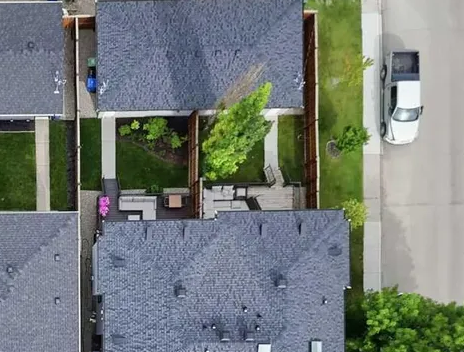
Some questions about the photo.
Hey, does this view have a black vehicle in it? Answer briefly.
No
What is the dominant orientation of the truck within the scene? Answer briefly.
vertically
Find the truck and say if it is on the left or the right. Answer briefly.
right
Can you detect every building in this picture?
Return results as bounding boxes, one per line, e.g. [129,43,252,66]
[91,209,351,352]
[0,210,83,352]
[95,0,308,118]
[0,1,65,123]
